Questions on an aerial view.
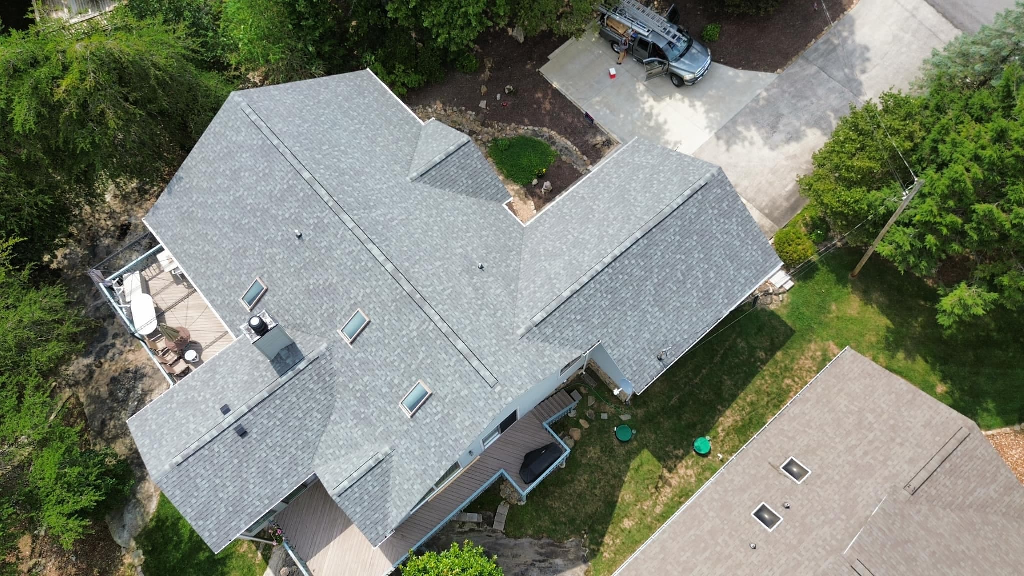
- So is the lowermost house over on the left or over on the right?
right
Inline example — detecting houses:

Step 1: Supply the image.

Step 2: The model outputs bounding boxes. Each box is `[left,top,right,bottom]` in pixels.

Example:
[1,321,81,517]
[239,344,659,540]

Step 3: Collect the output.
[609,348,1024,576]
[125,69,783,556]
